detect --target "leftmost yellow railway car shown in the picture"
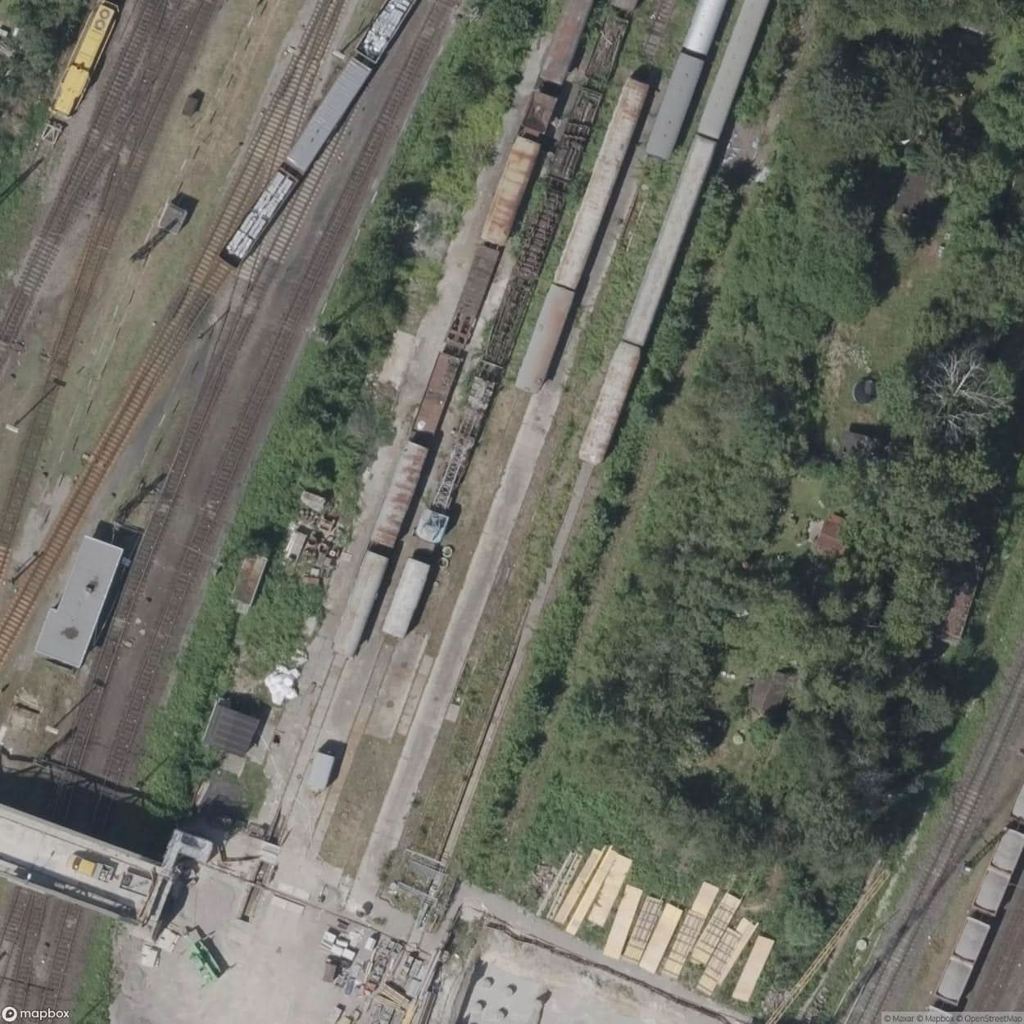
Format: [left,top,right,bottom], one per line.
[49,0,123,121]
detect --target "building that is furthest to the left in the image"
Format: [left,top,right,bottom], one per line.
[35,536,124,669]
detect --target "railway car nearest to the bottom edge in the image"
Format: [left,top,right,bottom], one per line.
[924,1003,954,1024]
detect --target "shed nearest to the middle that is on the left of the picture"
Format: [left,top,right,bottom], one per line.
[232,557,269,606]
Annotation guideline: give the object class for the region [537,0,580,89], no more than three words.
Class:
rail car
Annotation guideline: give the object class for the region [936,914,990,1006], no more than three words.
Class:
rail car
